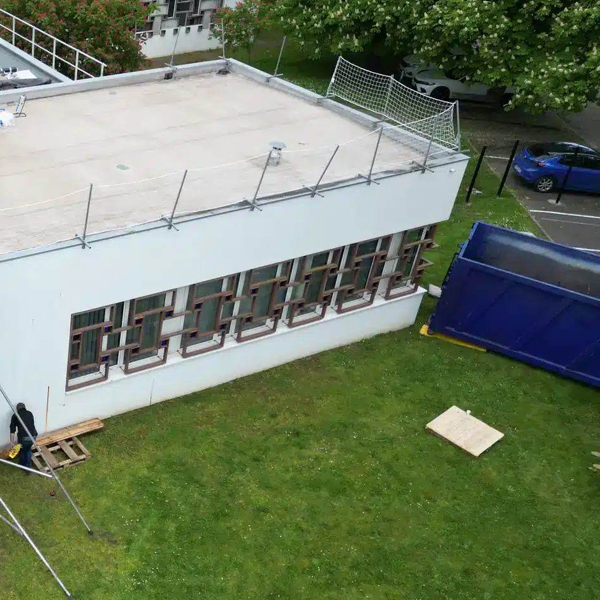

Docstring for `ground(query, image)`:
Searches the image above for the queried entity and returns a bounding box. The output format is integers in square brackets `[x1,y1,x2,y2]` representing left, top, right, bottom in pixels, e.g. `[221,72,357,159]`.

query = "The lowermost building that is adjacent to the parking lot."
[0,61,470,448]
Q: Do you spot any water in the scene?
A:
No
